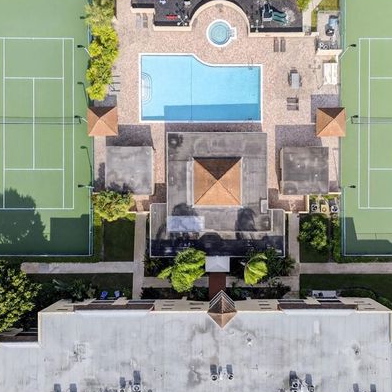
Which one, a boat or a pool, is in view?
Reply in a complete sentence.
This aerial view contains a pool.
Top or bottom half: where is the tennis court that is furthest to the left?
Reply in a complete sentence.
It is in the top half that the tennis court that is furthest to the left appears.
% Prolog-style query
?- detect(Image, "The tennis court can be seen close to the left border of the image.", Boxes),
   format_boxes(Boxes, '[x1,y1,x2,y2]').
[0,0,94,255]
